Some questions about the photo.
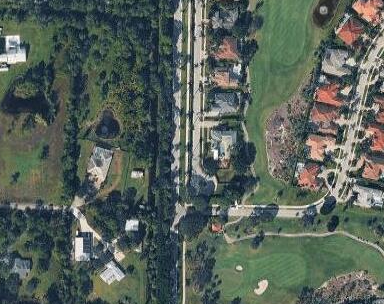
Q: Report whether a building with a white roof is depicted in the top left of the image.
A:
Yes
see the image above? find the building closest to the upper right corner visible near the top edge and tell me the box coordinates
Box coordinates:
[352,0,381,25]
